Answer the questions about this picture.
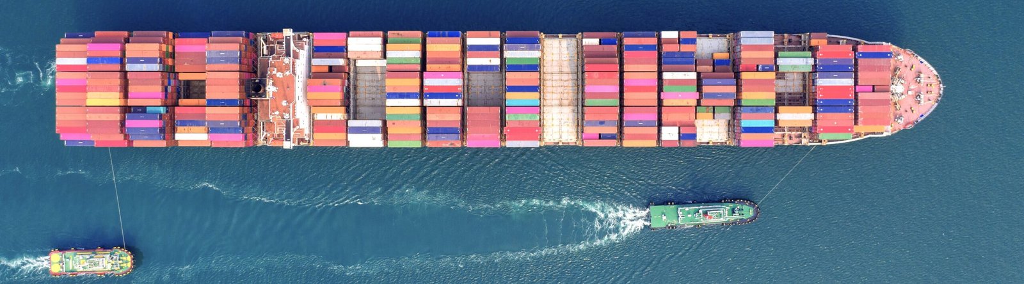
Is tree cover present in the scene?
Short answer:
No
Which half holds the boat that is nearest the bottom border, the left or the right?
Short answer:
left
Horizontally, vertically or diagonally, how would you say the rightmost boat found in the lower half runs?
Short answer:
horizontally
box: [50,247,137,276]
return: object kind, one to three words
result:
boat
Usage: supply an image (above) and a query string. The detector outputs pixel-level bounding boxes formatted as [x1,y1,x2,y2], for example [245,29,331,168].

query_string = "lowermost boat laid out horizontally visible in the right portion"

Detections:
[649,200,761,230]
